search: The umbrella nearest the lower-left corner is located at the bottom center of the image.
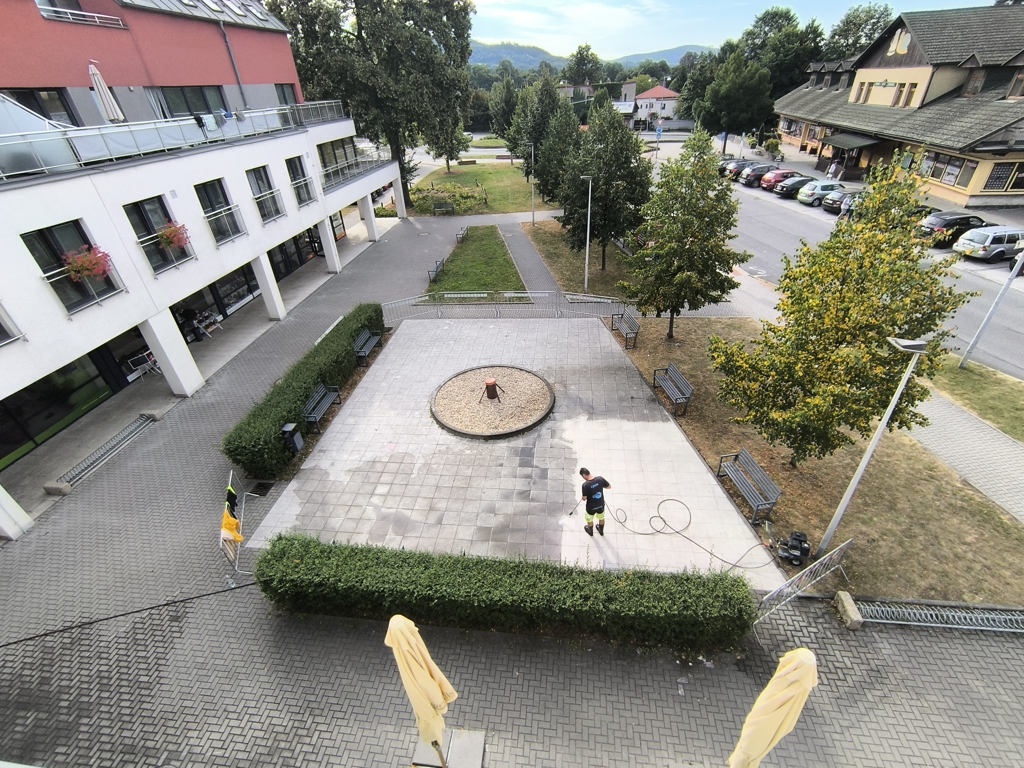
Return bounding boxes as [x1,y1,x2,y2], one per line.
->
[390,612,461,768]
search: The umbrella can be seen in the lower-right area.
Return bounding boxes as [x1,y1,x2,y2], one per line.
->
[726,638,820,768]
